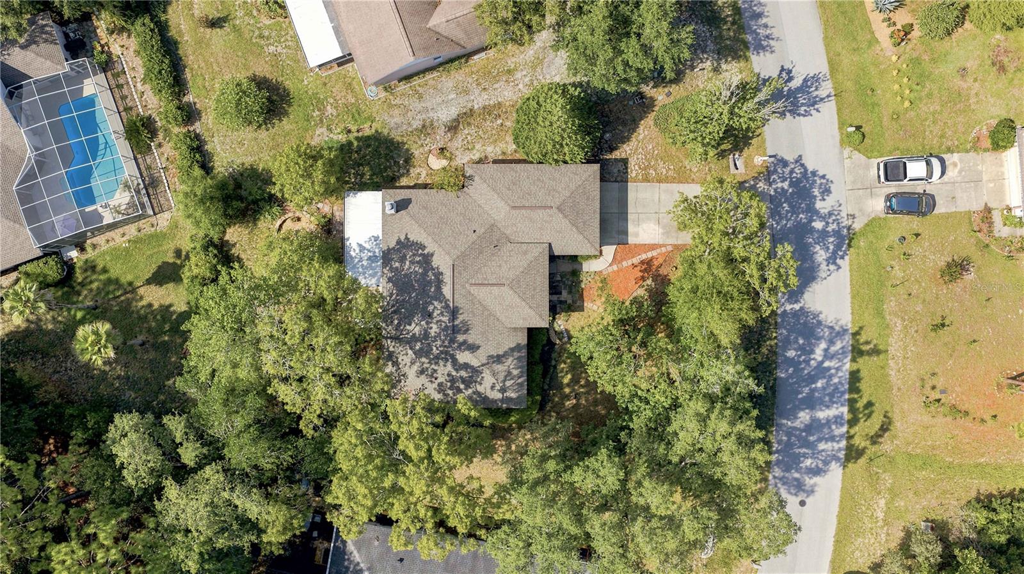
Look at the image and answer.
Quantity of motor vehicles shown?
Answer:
two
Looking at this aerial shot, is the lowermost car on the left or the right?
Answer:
right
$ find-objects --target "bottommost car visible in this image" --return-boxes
[882,192,931,216]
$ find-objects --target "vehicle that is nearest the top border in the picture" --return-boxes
[876,158,941,184]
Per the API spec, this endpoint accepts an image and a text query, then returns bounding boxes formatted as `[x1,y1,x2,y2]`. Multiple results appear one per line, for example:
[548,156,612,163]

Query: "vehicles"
[882,192,931,216]
[876,158,941,184]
